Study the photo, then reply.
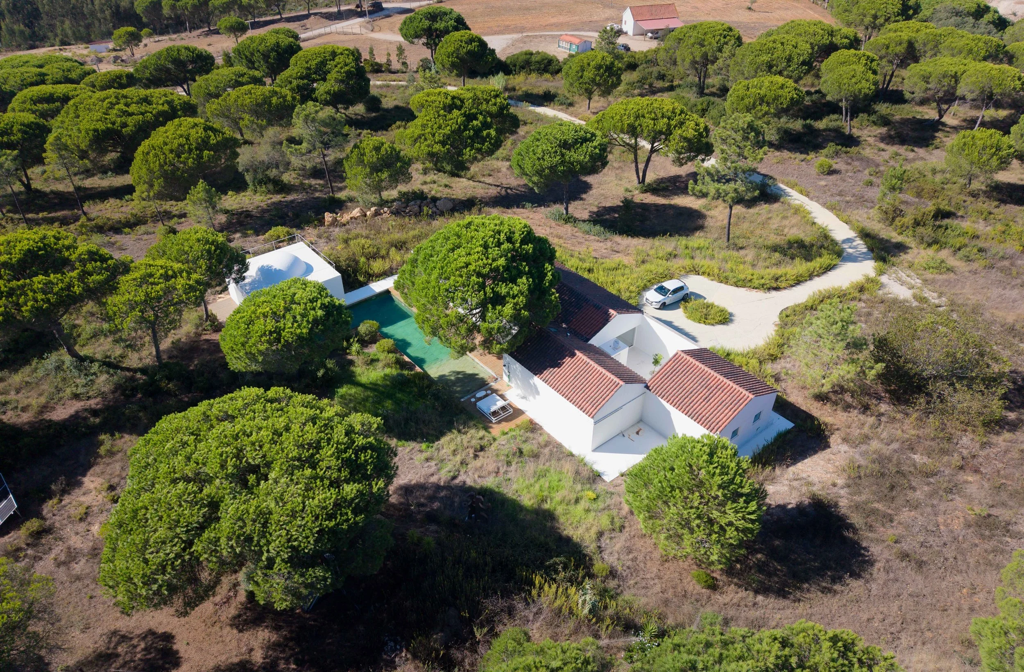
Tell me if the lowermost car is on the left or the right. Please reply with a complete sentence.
You can find the lowermost car on the right side of the picture.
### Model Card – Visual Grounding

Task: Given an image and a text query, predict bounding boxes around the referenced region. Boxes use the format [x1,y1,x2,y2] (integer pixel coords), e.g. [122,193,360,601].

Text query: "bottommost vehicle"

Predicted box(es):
[644,278,692,308]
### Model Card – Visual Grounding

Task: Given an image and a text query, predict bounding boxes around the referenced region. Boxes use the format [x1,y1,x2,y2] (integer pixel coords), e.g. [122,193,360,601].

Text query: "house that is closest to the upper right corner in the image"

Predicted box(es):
[616,1,679,36]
